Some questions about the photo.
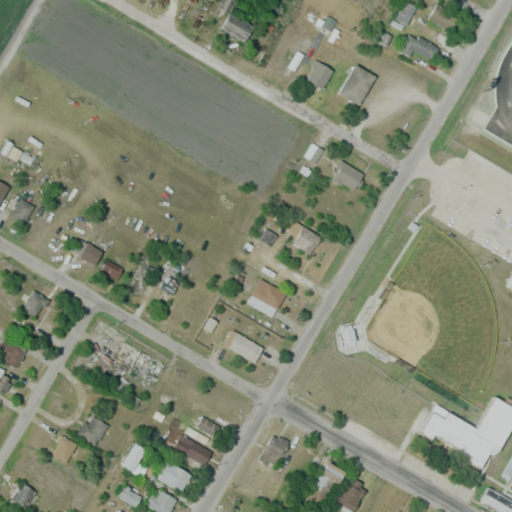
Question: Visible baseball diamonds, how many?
1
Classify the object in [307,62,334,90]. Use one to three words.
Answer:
house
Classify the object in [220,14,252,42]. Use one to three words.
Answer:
house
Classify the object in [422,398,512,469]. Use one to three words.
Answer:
building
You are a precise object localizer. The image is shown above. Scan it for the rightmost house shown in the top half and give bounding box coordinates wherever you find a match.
[426,6,456,30]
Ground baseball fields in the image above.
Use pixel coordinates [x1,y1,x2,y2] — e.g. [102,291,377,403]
[366,226,497,404]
